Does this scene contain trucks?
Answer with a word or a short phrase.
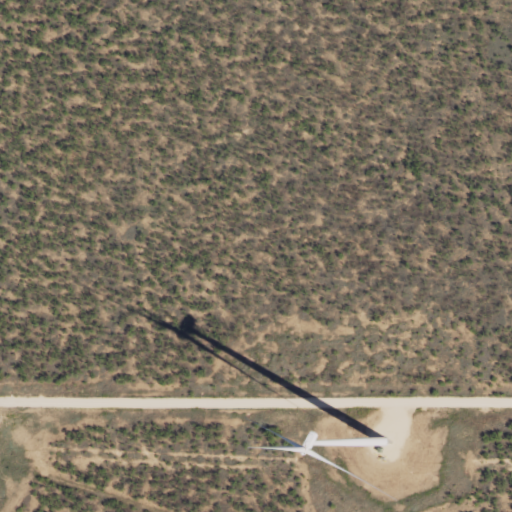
No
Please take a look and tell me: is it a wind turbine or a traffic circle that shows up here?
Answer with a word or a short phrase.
wind turbine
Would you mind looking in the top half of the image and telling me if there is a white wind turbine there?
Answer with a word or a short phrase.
No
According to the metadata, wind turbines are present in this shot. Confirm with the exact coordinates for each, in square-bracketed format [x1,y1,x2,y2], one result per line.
[248,422,394,500]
